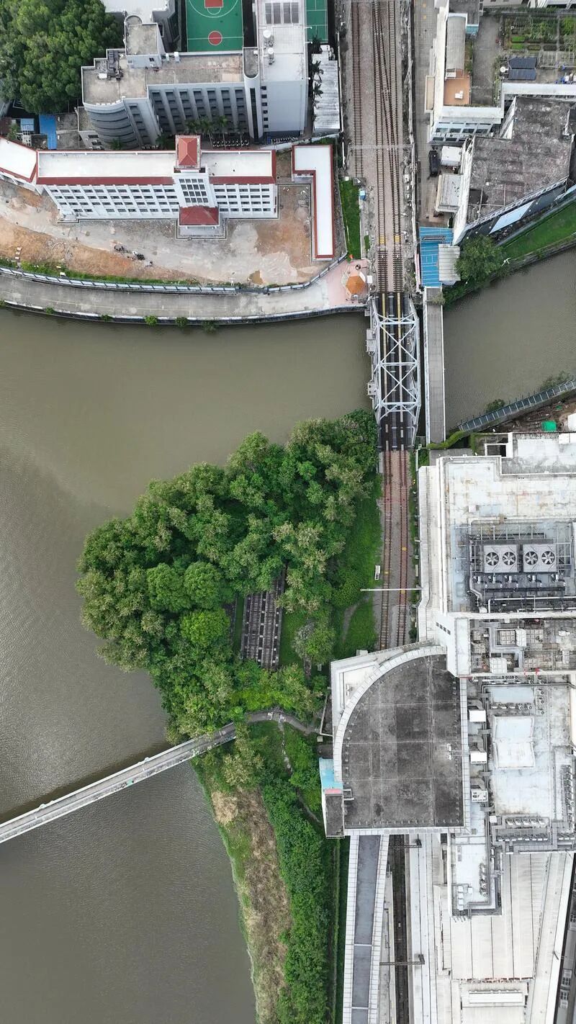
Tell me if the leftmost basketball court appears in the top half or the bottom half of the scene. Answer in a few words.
top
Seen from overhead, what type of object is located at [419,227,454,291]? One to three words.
shed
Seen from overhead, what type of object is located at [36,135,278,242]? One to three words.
building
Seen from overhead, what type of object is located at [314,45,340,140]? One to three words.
shed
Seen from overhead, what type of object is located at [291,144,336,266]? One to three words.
building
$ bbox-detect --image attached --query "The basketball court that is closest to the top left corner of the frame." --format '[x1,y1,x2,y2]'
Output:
[186,0,243,52]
